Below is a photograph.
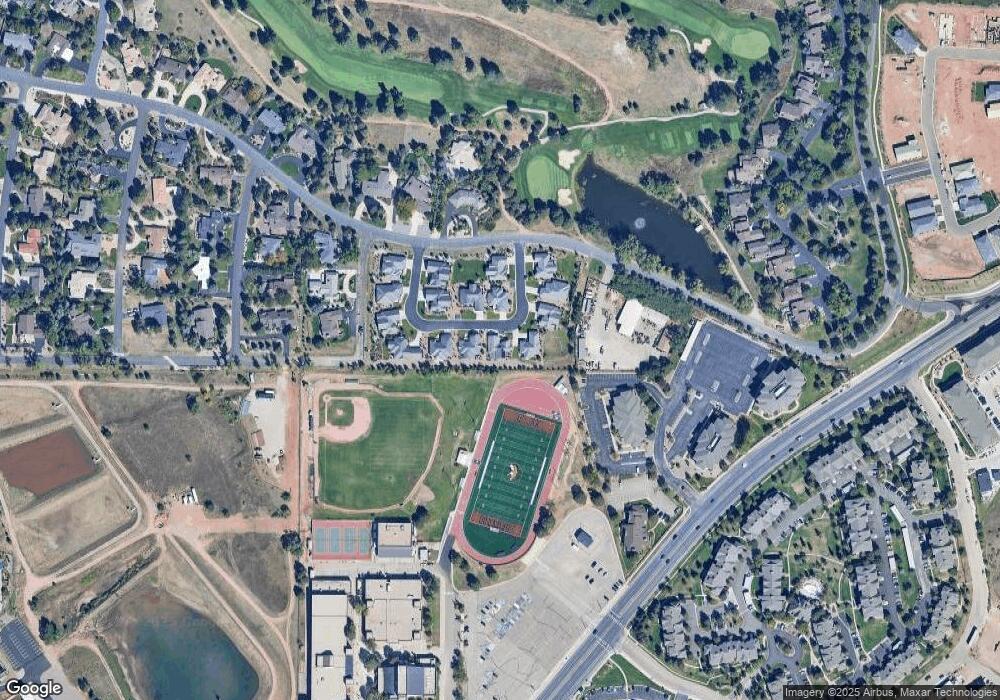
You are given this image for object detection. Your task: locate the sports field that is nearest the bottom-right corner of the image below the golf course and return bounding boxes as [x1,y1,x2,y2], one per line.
[465,399,562,556]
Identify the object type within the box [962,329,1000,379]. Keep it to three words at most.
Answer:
building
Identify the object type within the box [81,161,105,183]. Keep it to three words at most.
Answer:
house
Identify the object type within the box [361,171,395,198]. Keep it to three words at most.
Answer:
house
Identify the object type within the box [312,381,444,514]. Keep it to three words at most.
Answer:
baseball field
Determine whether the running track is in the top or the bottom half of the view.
bottom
